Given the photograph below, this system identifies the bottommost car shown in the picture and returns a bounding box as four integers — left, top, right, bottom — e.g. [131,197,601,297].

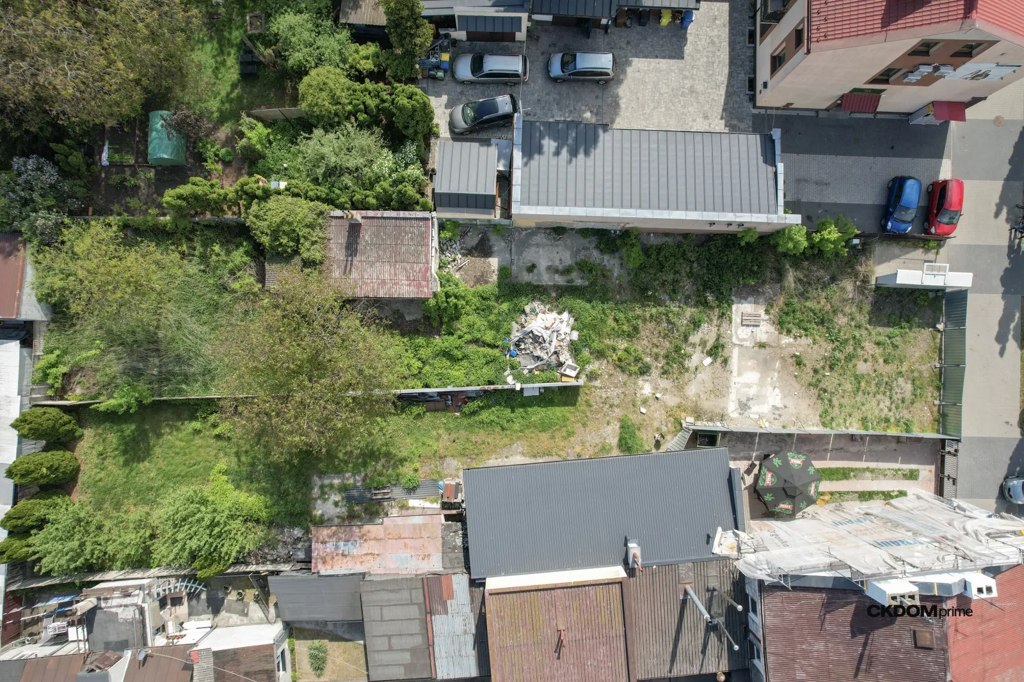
[1000,473,1024,504]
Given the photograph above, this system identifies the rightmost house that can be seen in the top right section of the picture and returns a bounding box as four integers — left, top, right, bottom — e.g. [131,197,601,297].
[746,0,1024,134]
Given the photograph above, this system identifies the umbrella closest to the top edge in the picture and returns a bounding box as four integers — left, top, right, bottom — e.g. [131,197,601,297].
[756,450,820,516]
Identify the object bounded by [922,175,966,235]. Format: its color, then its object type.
red car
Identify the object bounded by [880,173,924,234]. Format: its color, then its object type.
blue car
